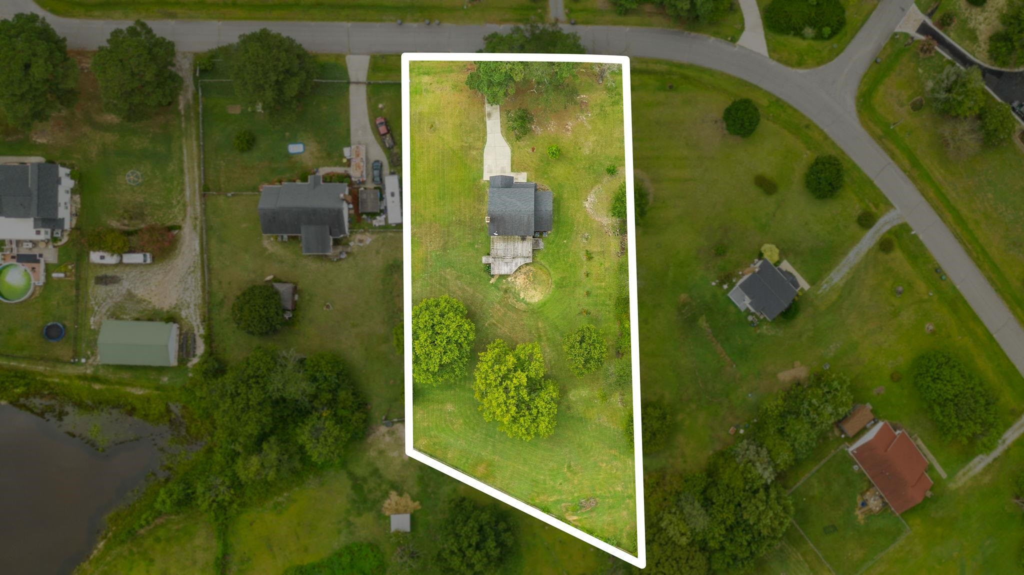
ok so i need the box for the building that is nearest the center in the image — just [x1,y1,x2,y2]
[486,174,553,236]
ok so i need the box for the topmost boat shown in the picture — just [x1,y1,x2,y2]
[351,145,366,181]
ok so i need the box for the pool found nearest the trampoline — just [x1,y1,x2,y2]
[0,261,38,303]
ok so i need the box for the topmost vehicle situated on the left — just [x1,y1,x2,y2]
[376,115,394,148]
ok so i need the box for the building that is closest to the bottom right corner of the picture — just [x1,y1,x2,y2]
[847,424,937,514]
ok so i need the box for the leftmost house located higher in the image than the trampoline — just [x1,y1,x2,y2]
[0,161,74,239]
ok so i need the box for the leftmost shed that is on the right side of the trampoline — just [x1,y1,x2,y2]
[96,321,178,367]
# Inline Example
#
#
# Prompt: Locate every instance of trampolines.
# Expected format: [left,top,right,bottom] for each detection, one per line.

[40,321,62,342]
